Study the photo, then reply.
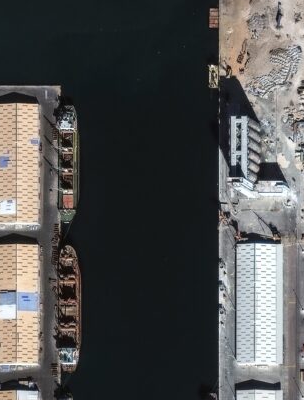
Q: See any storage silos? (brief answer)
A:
Yes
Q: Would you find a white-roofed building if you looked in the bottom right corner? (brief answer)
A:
Yes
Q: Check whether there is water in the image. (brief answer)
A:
Yes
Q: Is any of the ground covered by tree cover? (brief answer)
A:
No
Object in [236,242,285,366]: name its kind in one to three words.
building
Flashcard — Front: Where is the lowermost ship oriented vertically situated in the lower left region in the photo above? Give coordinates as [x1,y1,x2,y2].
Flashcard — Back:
[56,245,82,373]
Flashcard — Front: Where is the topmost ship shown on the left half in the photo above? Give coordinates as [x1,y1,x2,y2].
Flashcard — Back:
[56,105,80,241]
